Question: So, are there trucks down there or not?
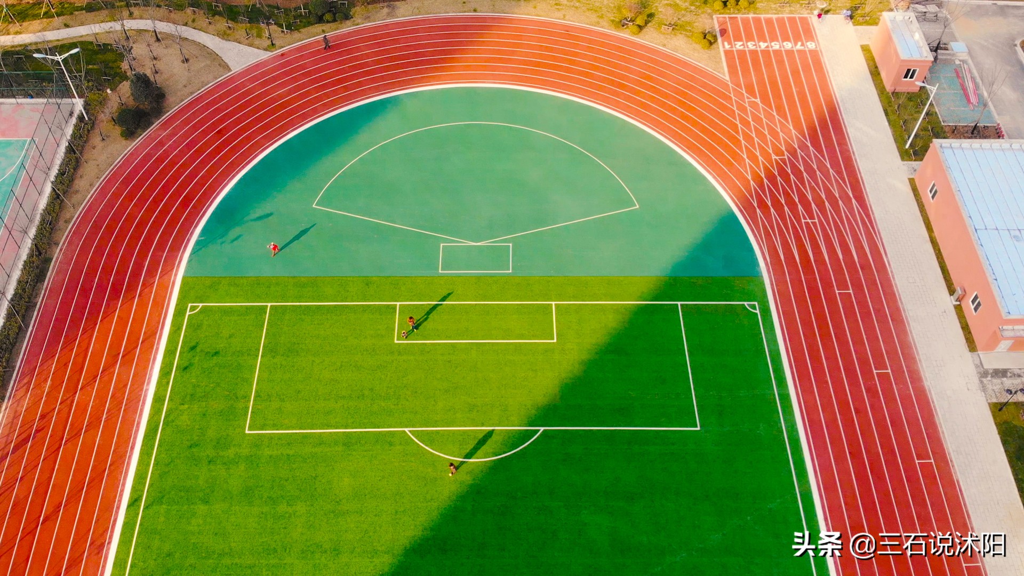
No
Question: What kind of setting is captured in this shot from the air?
sports ground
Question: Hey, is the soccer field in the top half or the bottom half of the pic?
bottom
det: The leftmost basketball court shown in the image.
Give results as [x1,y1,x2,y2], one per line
[0,105,72,302]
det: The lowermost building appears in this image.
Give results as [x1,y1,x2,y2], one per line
[915,140,1024,351]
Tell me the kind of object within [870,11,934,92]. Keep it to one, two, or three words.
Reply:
building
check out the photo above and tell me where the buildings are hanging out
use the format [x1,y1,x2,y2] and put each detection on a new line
[870,11,934,92]
[915,140,1024,351]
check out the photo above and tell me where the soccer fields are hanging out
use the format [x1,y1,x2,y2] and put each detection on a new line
[113,275,829,576]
